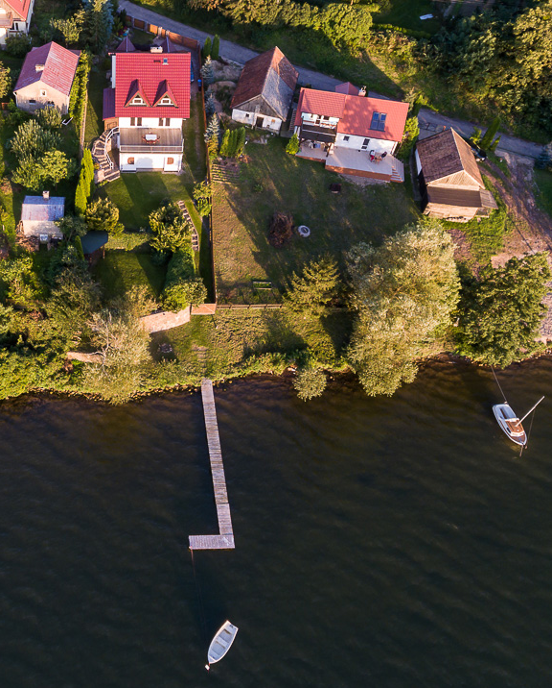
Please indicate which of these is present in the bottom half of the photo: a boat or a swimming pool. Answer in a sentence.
Looking in the bottom half of the photo, you will find a boat.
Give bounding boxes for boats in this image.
[209,619,239,664]
[492,391,536,455]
